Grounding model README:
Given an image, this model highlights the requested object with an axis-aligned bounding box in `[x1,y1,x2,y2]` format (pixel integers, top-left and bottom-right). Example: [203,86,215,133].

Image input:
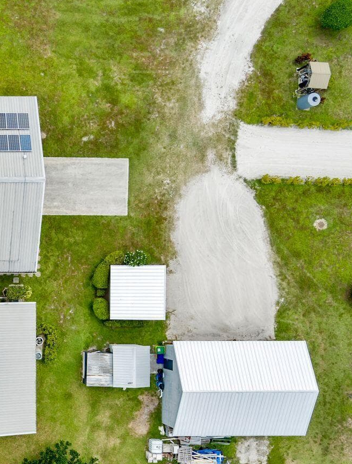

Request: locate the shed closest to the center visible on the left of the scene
[104,265,167,320]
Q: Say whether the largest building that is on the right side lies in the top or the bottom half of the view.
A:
bottom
